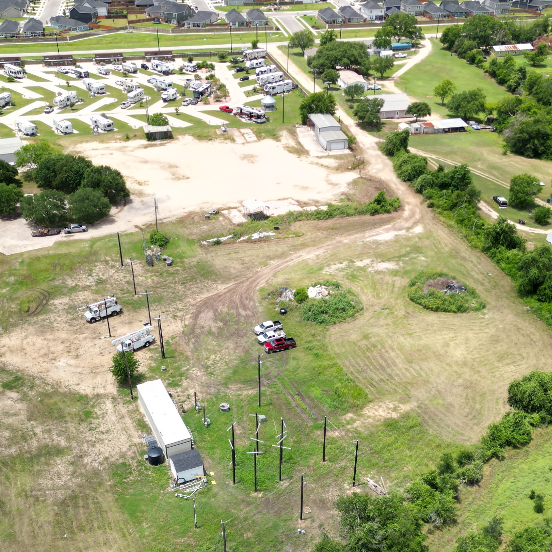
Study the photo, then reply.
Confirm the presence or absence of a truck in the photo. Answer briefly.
Yes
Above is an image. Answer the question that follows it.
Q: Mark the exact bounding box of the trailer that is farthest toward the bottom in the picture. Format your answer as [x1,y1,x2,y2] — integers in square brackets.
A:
[135,380,193,467]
